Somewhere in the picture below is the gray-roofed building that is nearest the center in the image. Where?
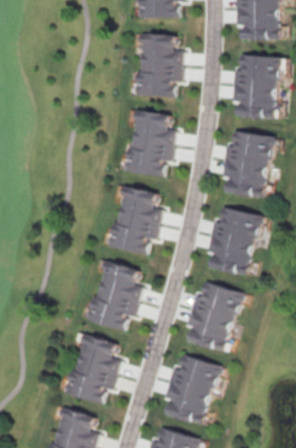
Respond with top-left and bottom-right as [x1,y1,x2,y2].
[104,186,170,254]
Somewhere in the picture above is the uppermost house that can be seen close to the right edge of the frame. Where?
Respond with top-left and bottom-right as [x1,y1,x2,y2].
[234,0,296,41]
